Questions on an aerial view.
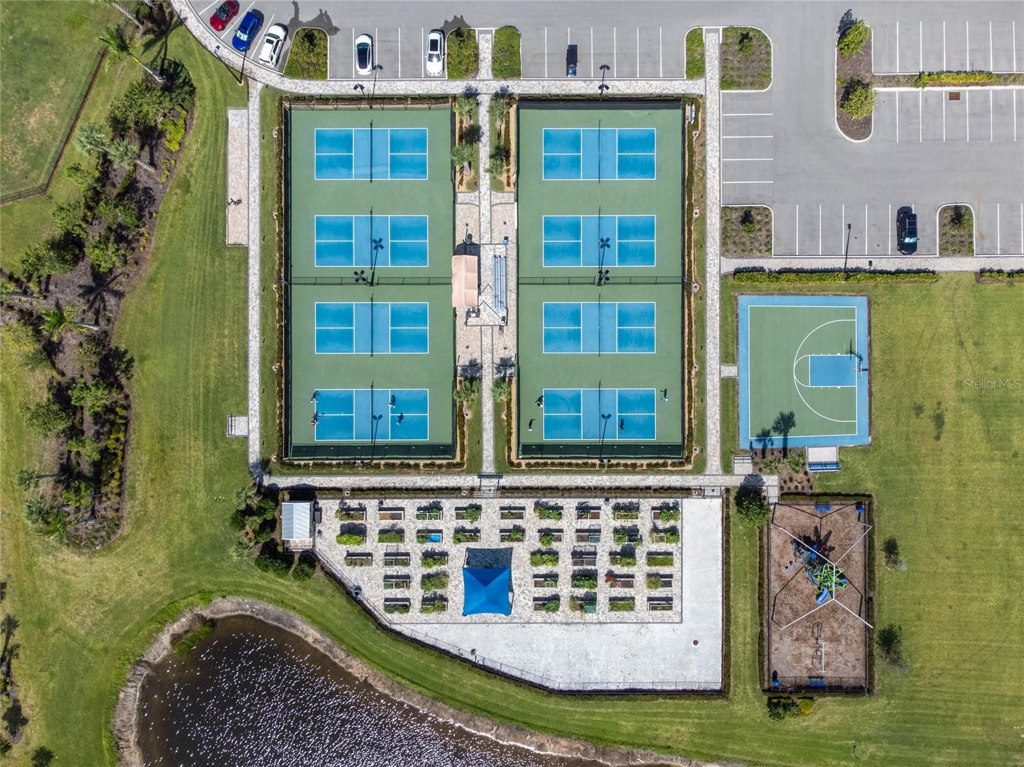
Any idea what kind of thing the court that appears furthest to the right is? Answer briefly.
basketball court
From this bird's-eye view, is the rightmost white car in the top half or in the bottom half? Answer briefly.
top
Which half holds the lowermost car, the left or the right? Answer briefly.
right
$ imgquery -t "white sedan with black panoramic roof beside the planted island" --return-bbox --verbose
[426,34,446,78]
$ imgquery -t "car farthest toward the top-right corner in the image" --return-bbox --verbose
[897,211,921,254]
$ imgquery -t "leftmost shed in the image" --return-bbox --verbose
[282,503,313,540]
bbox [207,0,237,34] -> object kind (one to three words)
car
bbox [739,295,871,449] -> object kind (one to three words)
basketball court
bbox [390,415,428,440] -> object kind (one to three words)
sports court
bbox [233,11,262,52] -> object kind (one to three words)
car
